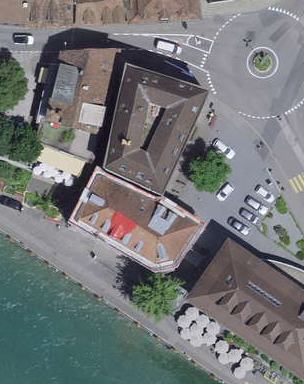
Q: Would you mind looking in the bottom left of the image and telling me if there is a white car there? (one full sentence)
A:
No, there is no white car in the bottom left of the image.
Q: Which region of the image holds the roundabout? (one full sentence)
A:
You can find the roundabout in the top right area of the picture.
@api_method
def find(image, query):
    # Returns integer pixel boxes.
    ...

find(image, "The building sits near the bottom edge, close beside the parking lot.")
[188,238,304,381]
